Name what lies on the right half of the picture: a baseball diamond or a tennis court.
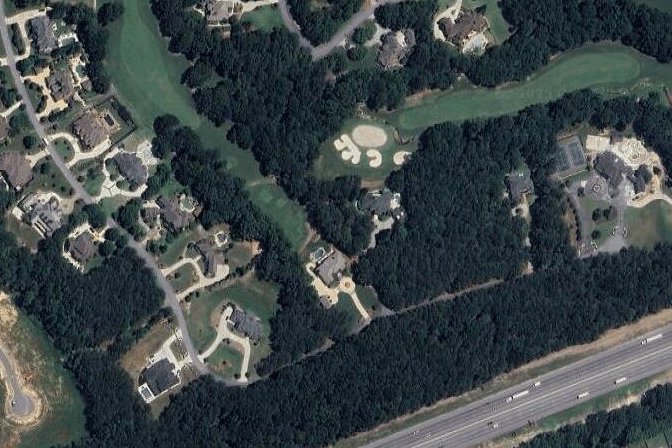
tennis court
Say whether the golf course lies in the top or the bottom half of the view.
top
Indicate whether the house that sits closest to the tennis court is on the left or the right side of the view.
right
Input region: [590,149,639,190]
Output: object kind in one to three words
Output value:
house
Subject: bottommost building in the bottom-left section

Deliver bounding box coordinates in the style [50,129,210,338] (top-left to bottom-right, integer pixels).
[143,358,178,393]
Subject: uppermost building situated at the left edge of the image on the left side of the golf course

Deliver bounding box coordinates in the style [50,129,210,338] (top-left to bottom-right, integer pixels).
[31,15,58,52]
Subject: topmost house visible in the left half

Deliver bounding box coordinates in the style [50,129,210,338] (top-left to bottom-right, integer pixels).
[206,0,233,22]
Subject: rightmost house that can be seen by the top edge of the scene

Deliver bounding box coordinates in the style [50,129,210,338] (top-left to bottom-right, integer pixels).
[441,11,486,39]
